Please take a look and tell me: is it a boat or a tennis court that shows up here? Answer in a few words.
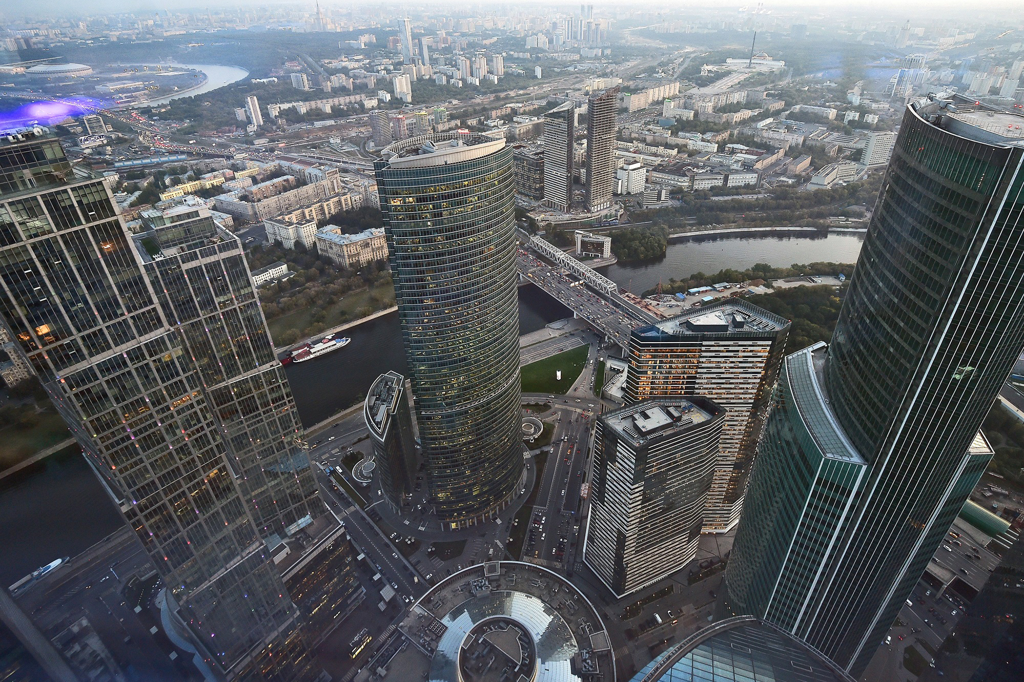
boat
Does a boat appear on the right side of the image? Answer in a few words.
No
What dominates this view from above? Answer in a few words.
buildings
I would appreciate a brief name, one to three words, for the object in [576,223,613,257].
building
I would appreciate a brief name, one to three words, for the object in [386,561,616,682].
building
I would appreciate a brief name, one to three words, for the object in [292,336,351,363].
boat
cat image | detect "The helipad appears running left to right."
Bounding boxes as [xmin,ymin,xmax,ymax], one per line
[942,106,1024,146]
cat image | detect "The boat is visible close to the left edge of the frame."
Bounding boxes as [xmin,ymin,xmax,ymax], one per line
[33,555,70,580]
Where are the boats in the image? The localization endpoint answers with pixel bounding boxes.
[292,336,351,363]
[33,555,70,580]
